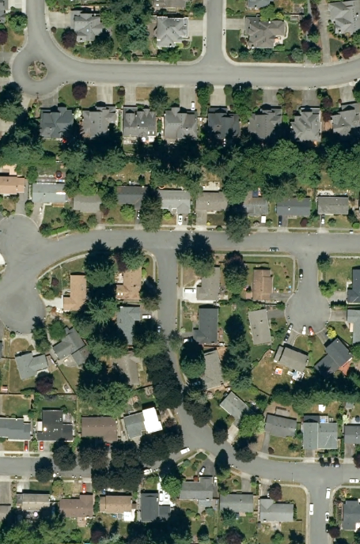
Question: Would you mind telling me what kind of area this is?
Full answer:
The area seen from above is a residential area.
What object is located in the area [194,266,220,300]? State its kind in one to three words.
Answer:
house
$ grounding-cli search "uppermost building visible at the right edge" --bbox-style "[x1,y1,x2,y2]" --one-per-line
[329,0,360,35]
